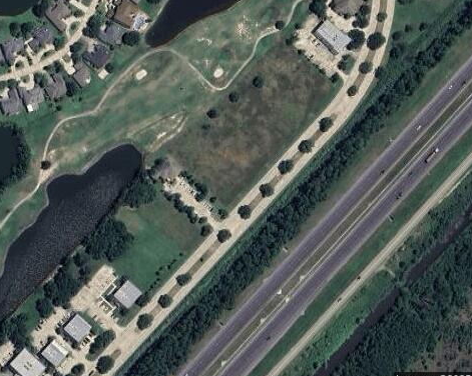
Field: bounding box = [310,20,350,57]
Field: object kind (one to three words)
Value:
building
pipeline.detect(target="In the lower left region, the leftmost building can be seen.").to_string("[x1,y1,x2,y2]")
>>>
[12,349,46,376]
